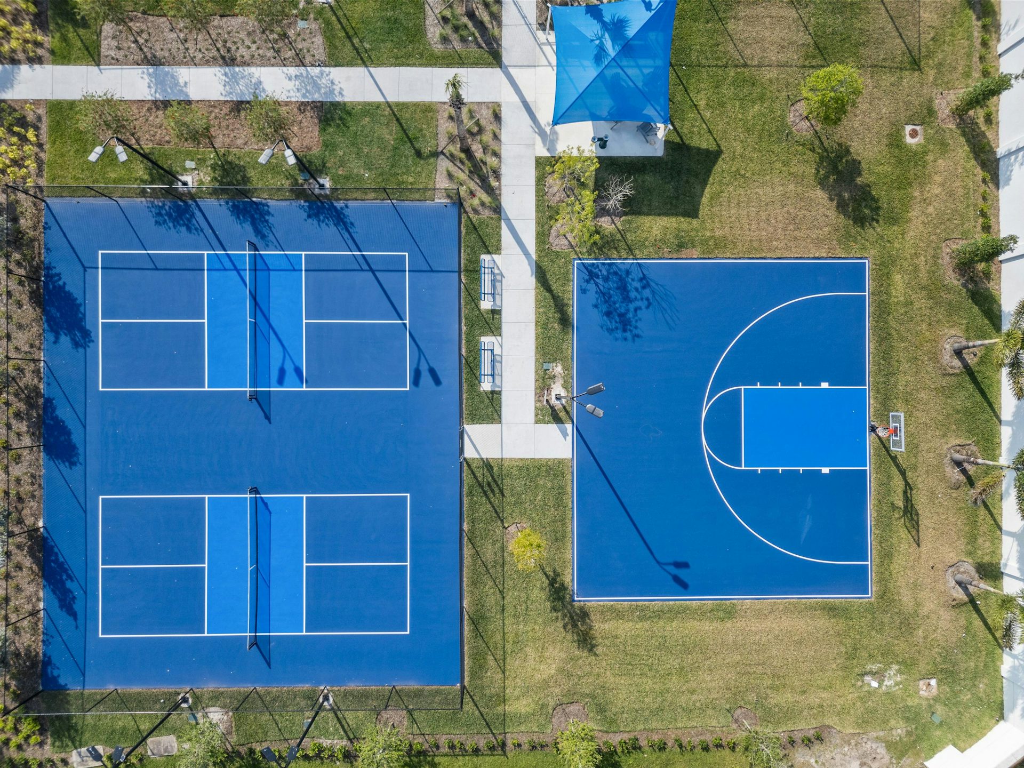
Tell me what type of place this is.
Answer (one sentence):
This looks like a sports ground.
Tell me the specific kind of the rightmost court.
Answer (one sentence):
In the photo, the rightmost court shows up as a basketball court.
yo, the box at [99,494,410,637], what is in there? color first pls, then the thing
blue sports court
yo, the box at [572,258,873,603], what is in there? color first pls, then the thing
blue basketball court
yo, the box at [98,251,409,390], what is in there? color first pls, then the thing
blue sports court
